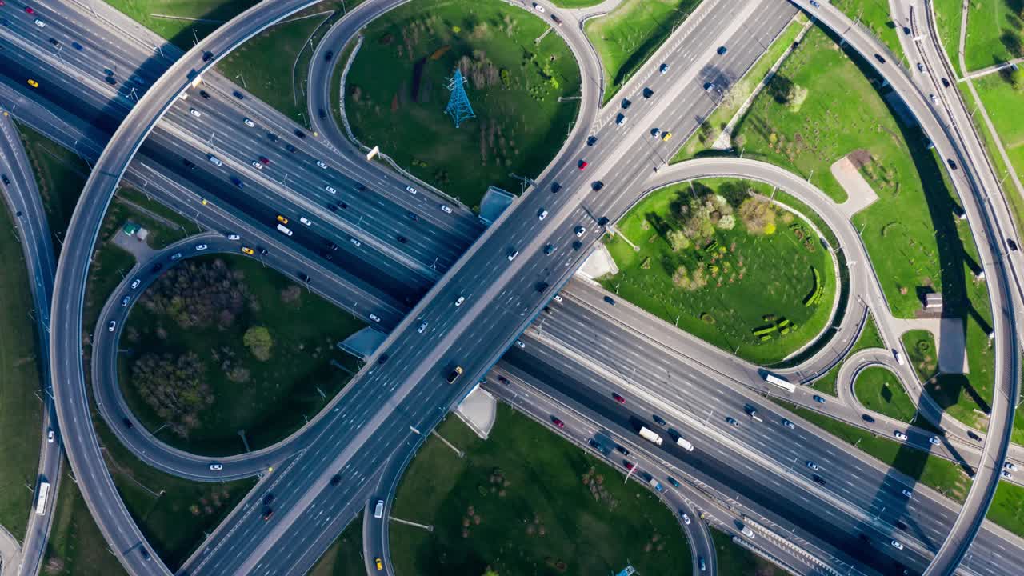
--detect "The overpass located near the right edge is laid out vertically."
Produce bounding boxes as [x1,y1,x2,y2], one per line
[791,0,1020,576]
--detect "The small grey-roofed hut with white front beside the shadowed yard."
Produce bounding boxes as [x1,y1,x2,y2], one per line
[926,293,946,310]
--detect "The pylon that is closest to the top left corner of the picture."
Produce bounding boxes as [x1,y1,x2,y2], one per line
[443,69,477,129]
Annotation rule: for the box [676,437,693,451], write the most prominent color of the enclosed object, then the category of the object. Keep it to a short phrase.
white vehicle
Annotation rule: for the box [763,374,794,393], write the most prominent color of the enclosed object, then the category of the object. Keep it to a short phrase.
white vehicle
